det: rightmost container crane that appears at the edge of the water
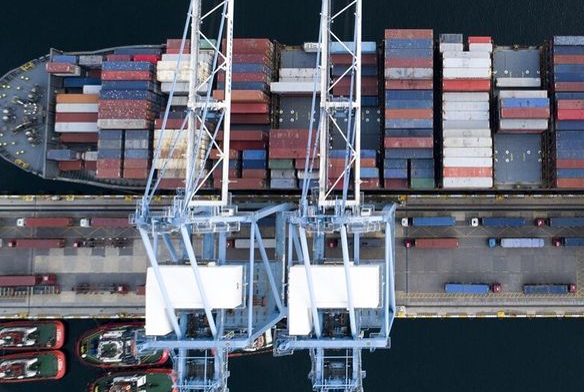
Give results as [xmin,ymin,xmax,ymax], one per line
[266,0,412,392]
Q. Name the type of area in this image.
port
